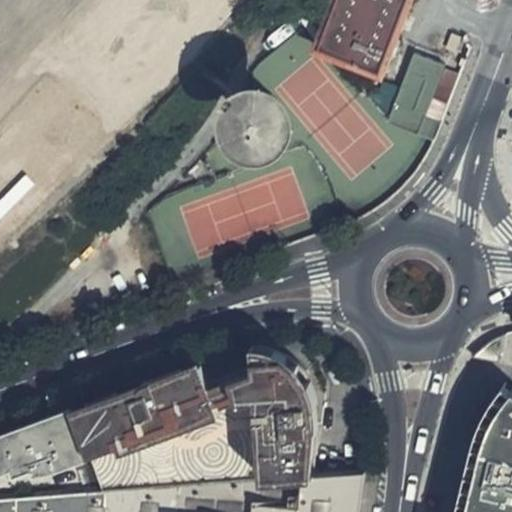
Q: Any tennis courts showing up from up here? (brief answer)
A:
Yes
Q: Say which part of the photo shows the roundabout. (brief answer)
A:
right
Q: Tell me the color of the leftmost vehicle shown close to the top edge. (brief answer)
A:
white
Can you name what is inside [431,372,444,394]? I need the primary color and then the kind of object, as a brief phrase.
white vehicle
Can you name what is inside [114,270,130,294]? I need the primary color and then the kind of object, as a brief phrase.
white vehicle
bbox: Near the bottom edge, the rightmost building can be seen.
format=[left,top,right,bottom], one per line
[450,384,512,512]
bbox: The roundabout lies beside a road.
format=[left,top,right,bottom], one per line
[373,246,455,328]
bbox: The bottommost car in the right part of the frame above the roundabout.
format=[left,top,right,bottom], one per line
[398,201,420,220]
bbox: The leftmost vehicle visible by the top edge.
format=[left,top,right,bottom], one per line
[264,24,296,51]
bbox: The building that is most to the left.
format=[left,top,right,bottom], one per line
[0,175,37,222]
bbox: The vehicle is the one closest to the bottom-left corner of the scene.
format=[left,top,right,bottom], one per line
[68,347,92,362]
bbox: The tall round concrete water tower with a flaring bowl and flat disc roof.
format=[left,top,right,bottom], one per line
[214,90,293,168]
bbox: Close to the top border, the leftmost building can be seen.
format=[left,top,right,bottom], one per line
[312,0,412,86]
